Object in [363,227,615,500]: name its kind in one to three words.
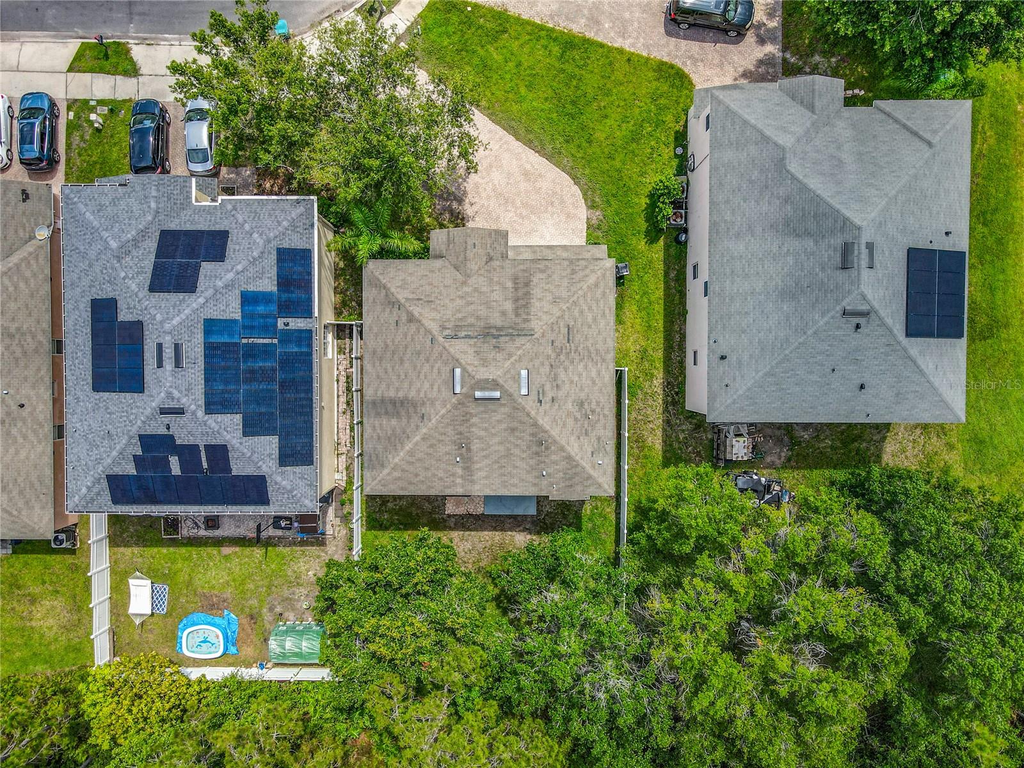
house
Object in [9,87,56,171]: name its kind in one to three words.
car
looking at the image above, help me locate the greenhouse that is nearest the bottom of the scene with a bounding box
[262,628,324,666]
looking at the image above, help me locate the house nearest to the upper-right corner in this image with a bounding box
[687,73,969,423]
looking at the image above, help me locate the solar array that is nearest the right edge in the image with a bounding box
[905,248,965,338]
